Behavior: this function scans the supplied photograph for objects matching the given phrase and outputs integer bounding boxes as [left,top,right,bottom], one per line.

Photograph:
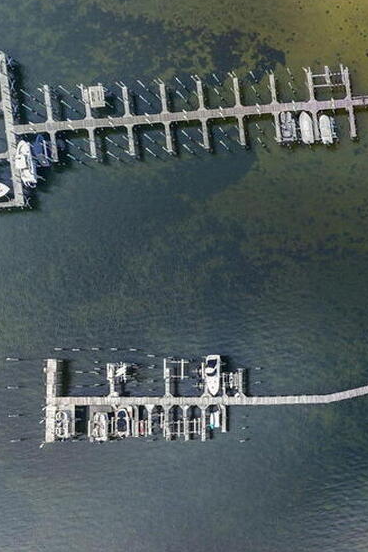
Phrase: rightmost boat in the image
[321,114,335,148]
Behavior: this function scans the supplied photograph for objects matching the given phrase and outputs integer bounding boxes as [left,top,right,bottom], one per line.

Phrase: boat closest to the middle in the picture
[206,355,220,395]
